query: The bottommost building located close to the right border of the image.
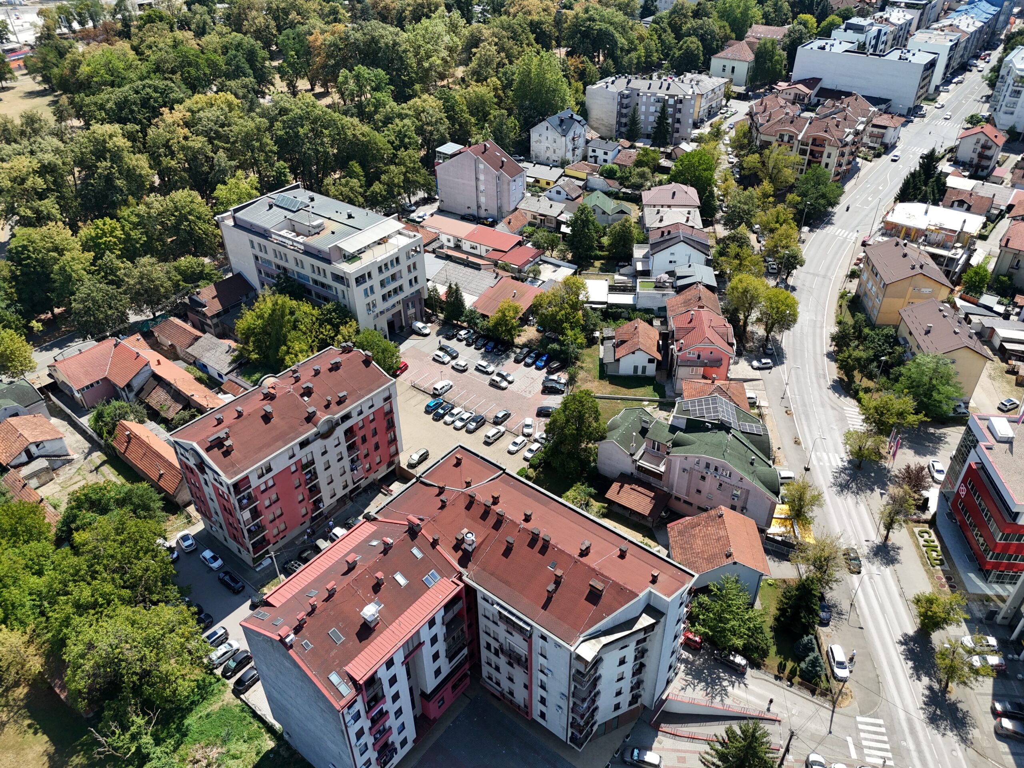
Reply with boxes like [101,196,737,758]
[940,410,1024,592]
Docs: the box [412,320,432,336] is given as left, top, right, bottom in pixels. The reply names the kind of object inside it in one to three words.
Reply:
vehicle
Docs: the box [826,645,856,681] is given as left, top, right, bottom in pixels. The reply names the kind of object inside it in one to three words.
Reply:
car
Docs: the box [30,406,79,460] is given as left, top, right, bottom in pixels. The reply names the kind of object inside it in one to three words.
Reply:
house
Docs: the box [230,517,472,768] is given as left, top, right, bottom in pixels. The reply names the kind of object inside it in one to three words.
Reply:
building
